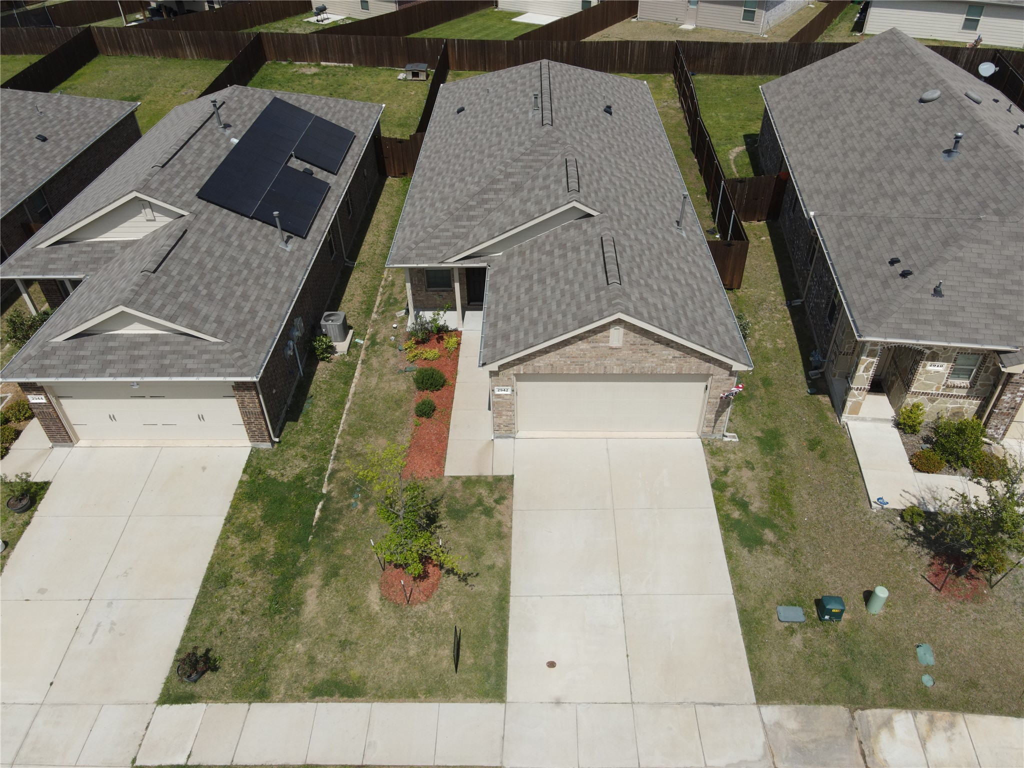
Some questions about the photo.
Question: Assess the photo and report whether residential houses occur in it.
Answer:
Yes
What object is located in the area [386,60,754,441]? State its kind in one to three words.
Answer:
house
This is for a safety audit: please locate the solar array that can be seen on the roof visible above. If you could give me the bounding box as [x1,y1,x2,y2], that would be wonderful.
[197,94,359,237]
